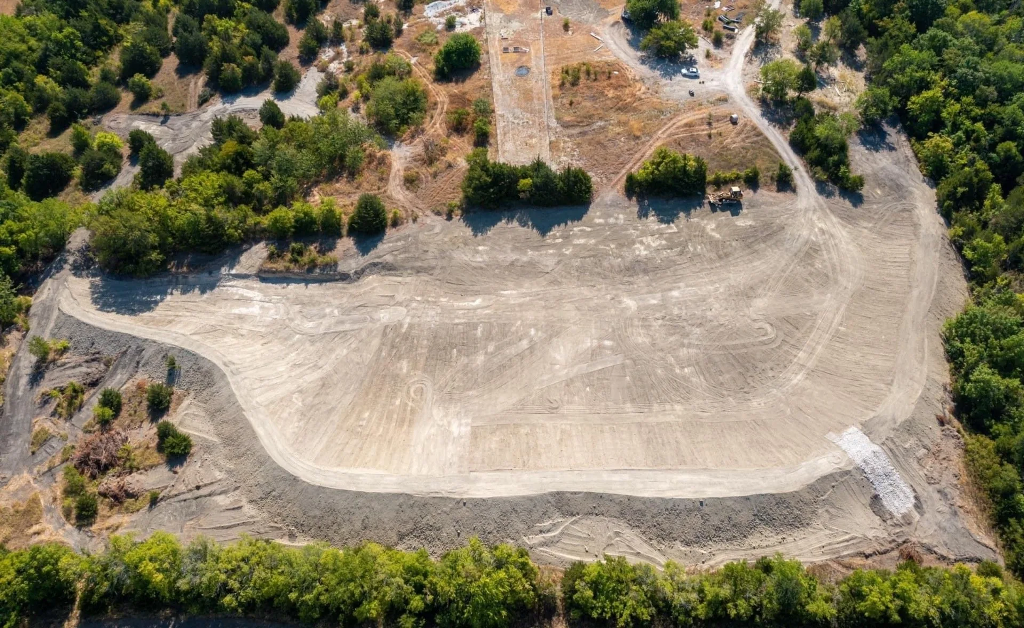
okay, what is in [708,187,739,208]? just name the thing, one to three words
work vehicle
